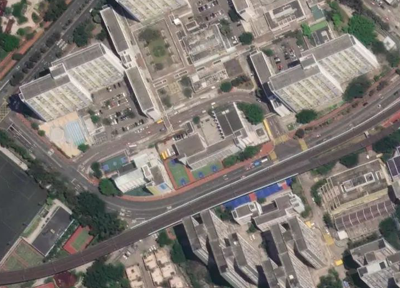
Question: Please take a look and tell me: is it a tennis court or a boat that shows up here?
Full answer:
I can see a tennis court in this picture.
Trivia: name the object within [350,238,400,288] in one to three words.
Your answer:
building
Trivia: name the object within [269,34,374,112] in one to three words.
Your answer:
building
